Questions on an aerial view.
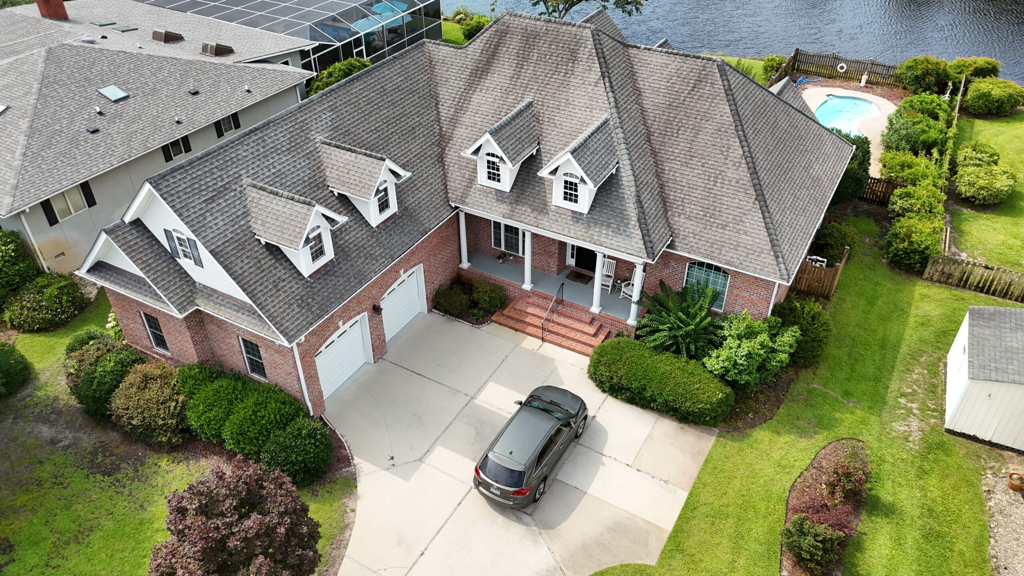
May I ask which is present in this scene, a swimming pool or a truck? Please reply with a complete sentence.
Of the two, only a swimming pool appears.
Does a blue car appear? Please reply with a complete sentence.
No, there is no blue car in the image.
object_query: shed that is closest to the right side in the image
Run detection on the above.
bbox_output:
[937,305,1024,459]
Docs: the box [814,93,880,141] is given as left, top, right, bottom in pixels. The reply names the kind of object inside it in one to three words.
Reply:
swimming pool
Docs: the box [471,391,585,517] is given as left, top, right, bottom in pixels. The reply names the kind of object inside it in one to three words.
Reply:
car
